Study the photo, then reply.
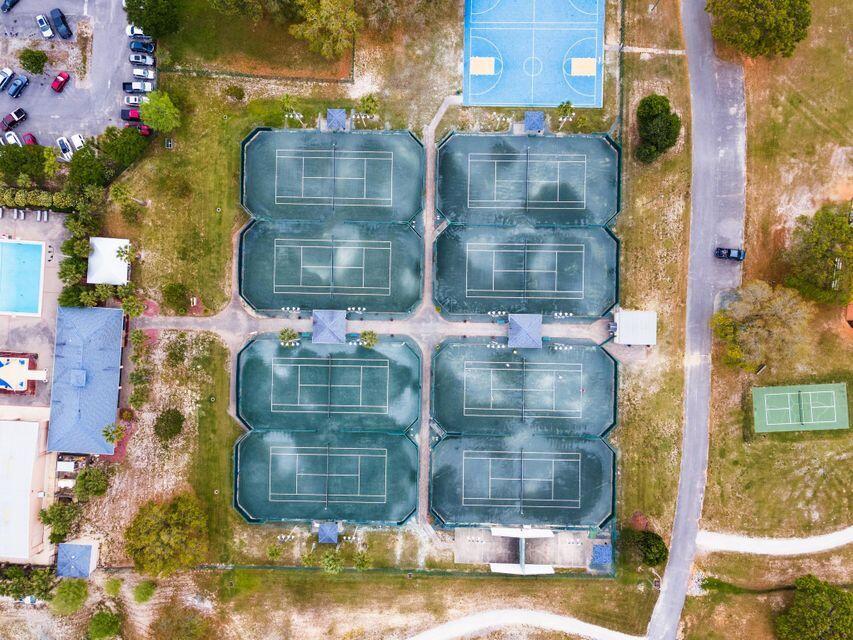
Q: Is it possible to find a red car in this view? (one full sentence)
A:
Yes, this view includes a red car.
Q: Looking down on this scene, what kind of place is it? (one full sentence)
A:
It's a sports ground.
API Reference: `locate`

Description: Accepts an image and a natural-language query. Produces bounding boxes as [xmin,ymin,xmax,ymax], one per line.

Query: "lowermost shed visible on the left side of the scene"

[56,541,97,578]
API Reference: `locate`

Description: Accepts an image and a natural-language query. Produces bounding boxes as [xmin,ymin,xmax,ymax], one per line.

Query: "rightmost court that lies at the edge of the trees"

[752,383,848,433]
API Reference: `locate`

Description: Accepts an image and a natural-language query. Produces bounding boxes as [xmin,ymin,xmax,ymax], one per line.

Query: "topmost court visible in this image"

[464,0,606,26]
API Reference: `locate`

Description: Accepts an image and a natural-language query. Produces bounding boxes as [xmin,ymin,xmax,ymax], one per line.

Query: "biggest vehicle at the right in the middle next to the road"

[712,248,745,260]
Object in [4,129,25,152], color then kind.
white car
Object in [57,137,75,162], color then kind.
white car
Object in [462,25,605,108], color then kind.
blue basketball court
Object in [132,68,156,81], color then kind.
white vehicle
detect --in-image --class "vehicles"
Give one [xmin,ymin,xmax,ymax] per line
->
[127,122,151,132]
[606,323,614,330]
[127,27,150,38]
[22,130,41,148]
[130,54,156,67]
[9,76,30,98]
[0,107,28,132]
[132,68,156,81]
[122,109,151,122]
[122,0,132,9]
[123,81,154,93]
[57,137,75,162]
[0,0,22,14]
[4,129,25,152]
[52,72,71,93]
[712,248,745,260]
[36,15,56,39]
[126,95,150,106]
[0,68,17,92]
[130,42,156,53]
[50,8,73,39]
[69,132,87,153]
